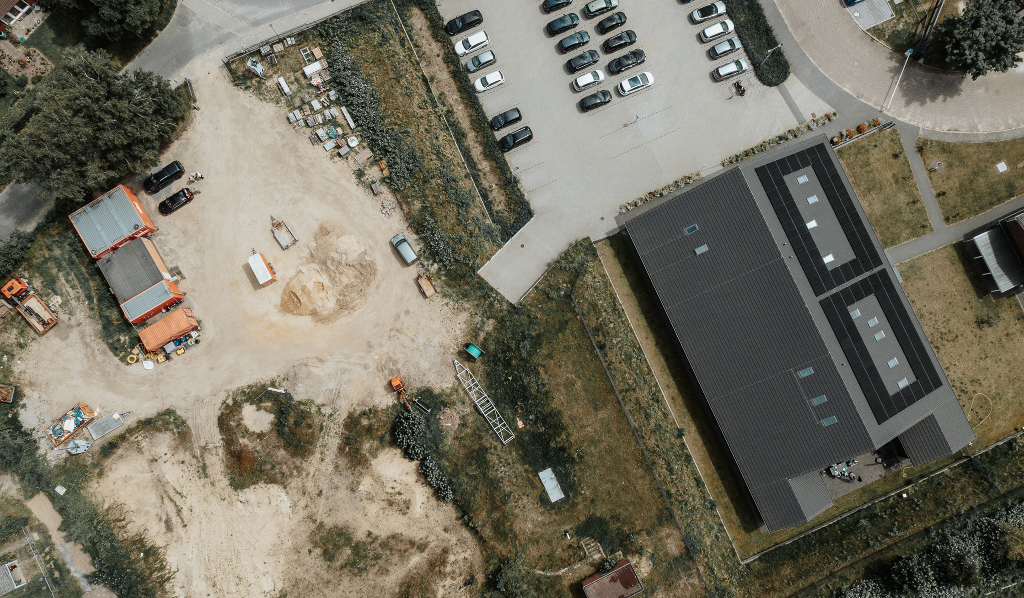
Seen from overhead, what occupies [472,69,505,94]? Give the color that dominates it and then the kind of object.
white car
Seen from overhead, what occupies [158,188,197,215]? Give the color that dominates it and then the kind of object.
black car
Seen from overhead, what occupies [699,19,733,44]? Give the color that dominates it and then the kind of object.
white car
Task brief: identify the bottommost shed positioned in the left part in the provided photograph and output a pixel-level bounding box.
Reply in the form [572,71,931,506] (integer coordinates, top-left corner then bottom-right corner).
[0,554,40,596]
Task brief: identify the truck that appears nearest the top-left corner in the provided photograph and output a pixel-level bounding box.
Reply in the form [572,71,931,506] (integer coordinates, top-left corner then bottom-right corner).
[138,159,184,192]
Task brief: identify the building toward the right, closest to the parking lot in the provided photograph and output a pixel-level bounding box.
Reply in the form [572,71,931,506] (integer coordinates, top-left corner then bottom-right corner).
[625,133,977,533]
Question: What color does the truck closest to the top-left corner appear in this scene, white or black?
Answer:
black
